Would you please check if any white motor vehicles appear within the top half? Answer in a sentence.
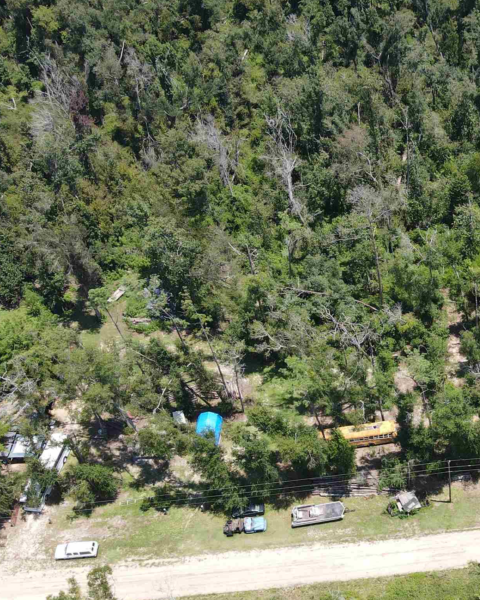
No, within the top half there is no white motor vehicle.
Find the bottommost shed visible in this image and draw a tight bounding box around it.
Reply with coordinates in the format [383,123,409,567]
[389,490,425,521]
